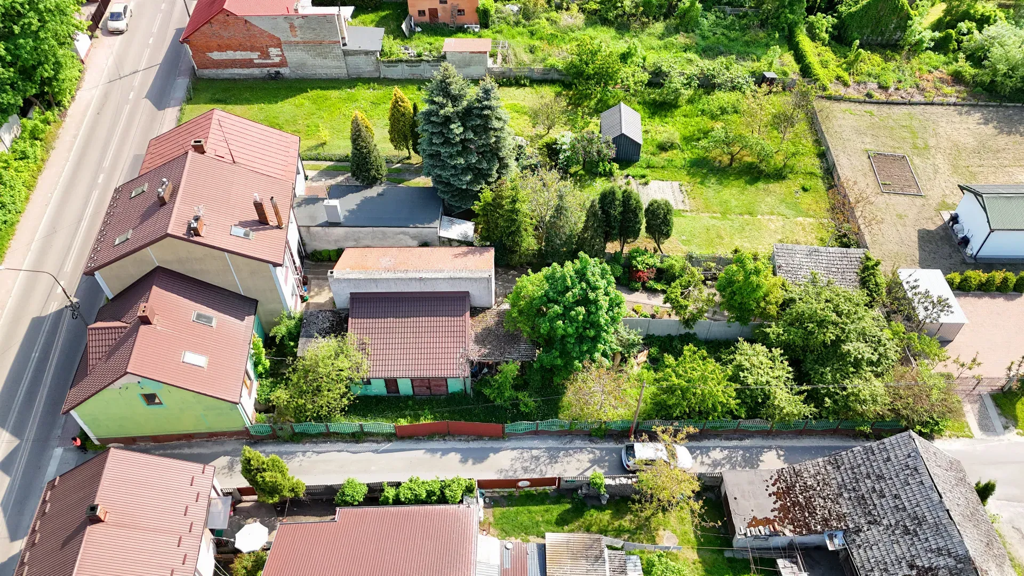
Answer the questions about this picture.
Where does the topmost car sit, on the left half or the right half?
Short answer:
left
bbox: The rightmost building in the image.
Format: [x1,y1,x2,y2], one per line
[949,181,1024,260]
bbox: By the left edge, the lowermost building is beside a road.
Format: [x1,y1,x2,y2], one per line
[13,446,224,576]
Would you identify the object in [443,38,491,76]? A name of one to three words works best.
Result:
shed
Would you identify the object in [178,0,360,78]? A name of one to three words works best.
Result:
house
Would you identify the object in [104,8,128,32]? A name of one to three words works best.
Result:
car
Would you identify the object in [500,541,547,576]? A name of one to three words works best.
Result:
shed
